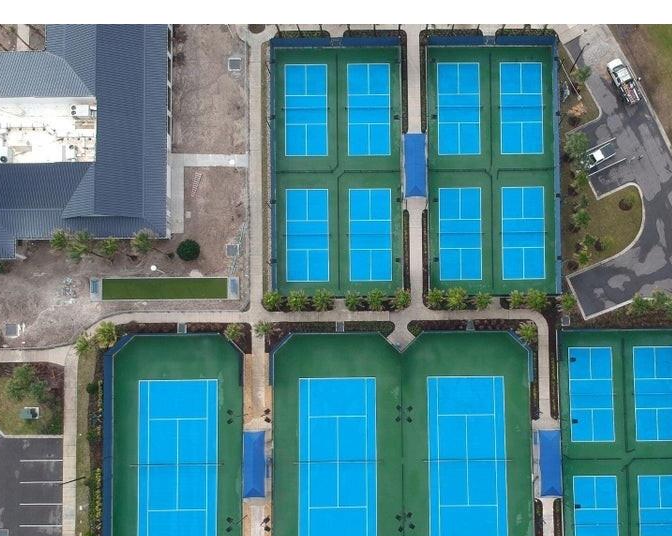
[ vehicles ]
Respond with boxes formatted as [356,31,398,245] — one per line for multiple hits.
[609,62,645,105]
[576,141,619,171]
